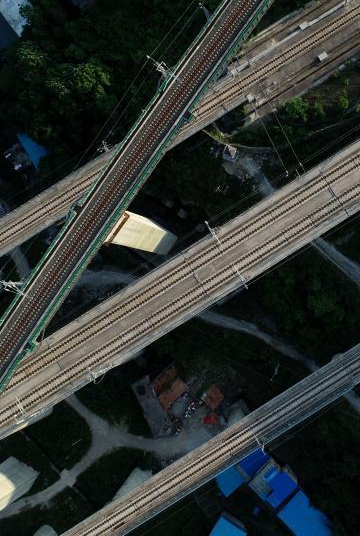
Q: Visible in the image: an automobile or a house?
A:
house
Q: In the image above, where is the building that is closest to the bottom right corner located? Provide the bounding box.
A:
[277,486,338,536]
